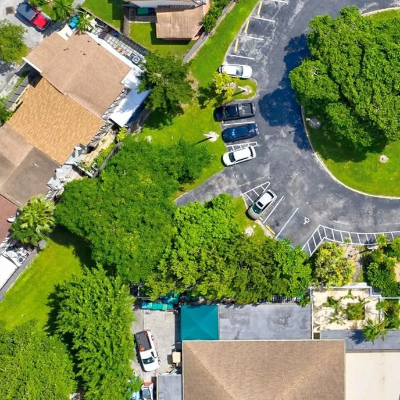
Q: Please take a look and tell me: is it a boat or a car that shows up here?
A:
car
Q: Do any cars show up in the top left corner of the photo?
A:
Yes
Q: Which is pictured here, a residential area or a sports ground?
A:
residential area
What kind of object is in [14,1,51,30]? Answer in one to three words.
car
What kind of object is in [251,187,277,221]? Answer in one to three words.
car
